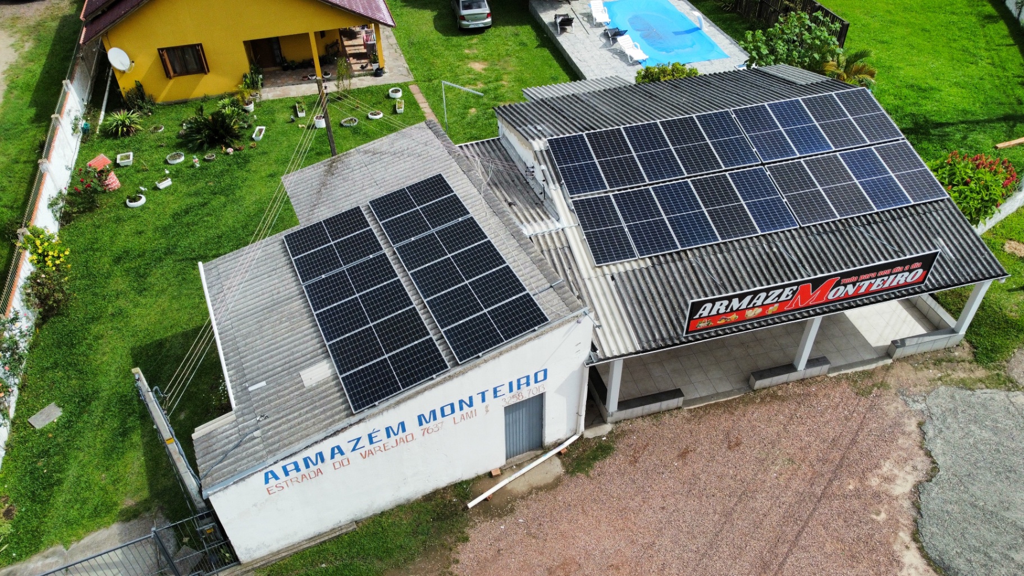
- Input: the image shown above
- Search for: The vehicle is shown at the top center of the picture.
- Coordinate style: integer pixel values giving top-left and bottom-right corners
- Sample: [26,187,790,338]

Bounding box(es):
[457,0,497,27]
